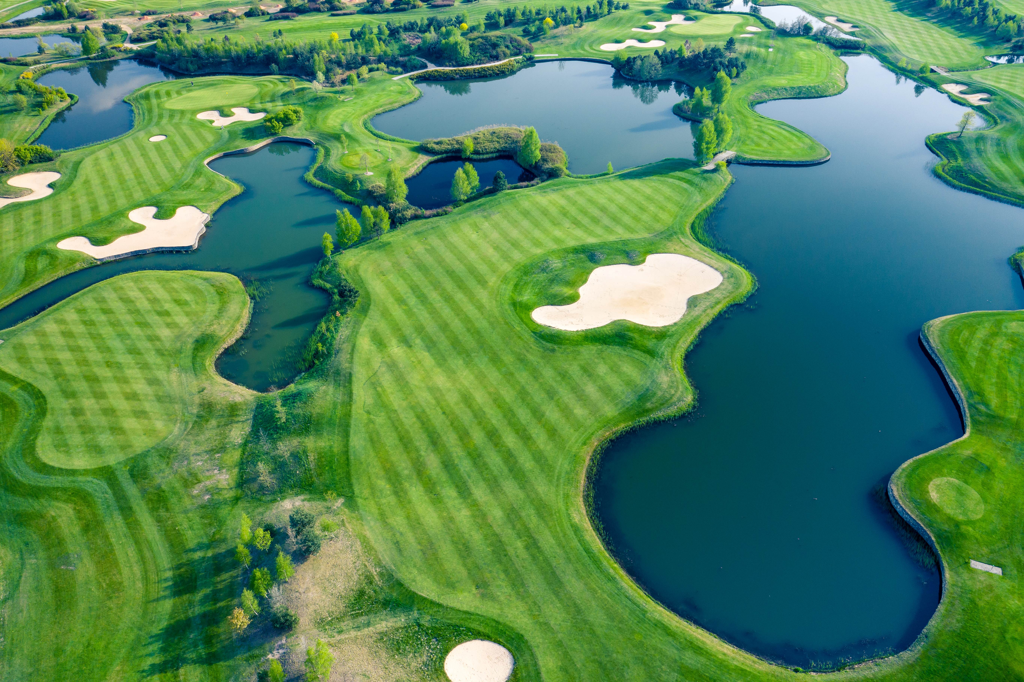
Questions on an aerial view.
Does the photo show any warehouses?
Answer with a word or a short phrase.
No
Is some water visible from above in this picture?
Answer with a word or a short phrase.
Yes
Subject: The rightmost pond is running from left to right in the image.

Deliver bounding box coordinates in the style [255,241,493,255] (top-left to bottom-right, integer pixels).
[718,0,858,39]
